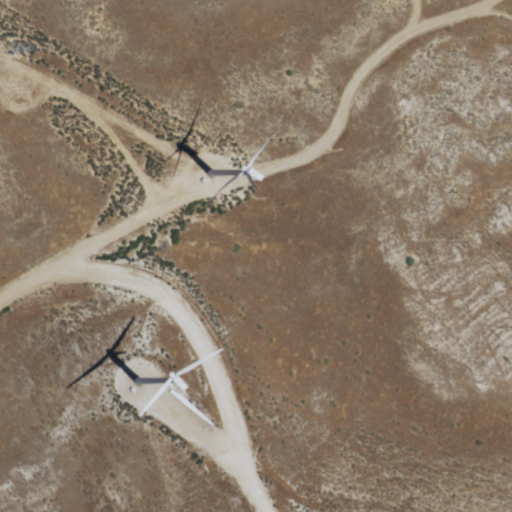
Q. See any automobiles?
No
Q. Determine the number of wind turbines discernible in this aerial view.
2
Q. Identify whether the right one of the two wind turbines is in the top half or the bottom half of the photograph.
top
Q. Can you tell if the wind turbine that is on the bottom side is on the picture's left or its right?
left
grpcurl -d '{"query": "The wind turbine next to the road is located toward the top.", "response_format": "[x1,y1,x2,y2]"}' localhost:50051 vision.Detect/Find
[204,124,278,192]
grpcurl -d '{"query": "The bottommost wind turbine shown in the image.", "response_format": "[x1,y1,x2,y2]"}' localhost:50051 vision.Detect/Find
[132,350,219,414]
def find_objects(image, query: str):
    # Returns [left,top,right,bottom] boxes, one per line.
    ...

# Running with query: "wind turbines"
[204,124,278,192]
[132,350,219,414]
